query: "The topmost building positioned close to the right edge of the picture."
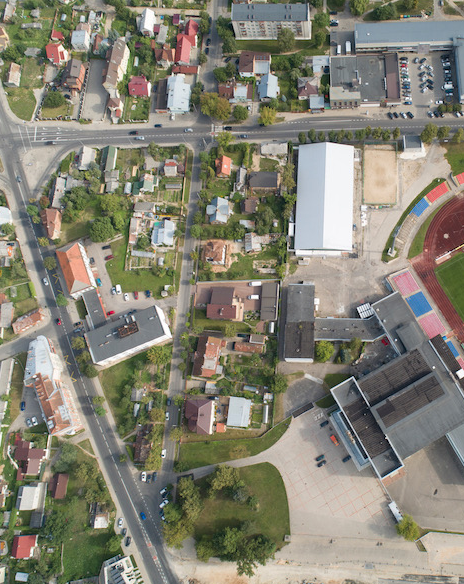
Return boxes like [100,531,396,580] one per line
[355,21,464,53]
